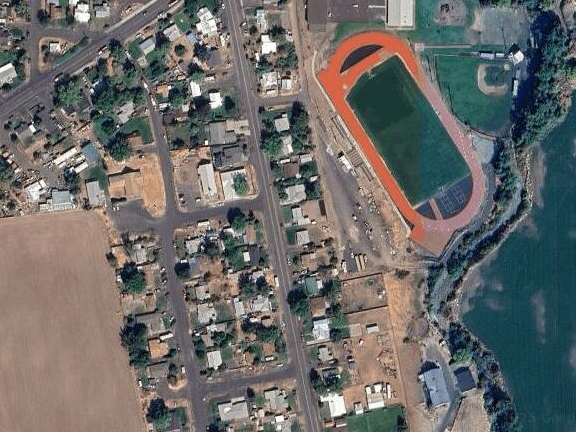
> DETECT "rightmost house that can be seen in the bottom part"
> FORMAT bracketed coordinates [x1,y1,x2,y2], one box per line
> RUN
[456,367,477,393]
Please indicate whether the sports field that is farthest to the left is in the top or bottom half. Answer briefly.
top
